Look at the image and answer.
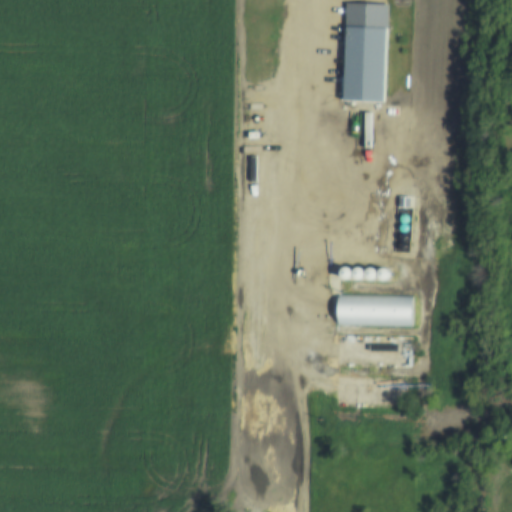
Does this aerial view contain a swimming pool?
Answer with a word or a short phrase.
No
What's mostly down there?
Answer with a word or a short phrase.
farmland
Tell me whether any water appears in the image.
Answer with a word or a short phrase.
No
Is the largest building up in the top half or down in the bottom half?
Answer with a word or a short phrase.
top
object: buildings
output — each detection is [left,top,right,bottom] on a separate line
[344,2,392,104]
[402,196,414,209]
[339,296,416,328]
